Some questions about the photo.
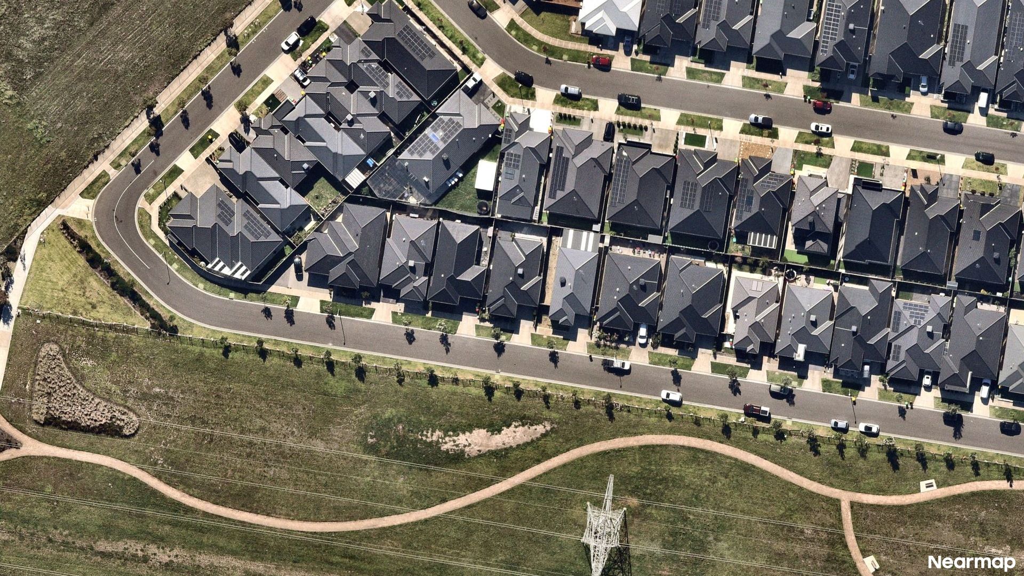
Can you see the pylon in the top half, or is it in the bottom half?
bottom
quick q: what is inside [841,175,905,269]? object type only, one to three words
house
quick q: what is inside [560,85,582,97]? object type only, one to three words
vehicle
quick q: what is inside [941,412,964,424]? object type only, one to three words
vehicle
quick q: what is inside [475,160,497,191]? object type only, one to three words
shed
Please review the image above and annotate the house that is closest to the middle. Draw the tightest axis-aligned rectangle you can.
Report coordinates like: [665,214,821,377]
[486,239,543,318]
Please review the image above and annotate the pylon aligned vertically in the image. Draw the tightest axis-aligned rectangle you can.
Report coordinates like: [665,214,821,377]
[580,475,627,576]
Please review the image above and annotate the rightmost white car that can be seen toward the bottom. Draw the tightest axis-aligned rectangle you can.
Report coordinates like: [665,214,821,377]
[979,378,991,400]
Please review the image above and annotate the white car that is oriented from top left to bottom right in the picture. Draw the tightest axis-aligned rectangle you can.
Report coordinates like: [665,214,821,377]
[292,66,311,87]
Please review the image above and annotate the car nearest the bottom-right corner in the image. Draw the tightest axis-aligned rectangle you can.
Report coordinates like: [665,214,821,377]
[998,422,1021,434]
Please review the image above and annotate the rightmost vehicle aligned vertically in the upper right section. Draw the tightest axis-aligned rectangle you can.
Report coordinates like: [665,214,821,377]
[976,87,989,112]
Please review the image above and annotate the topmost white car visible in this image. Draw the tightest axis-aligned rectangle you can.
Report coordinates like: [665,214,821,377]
[281,33,300,52]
